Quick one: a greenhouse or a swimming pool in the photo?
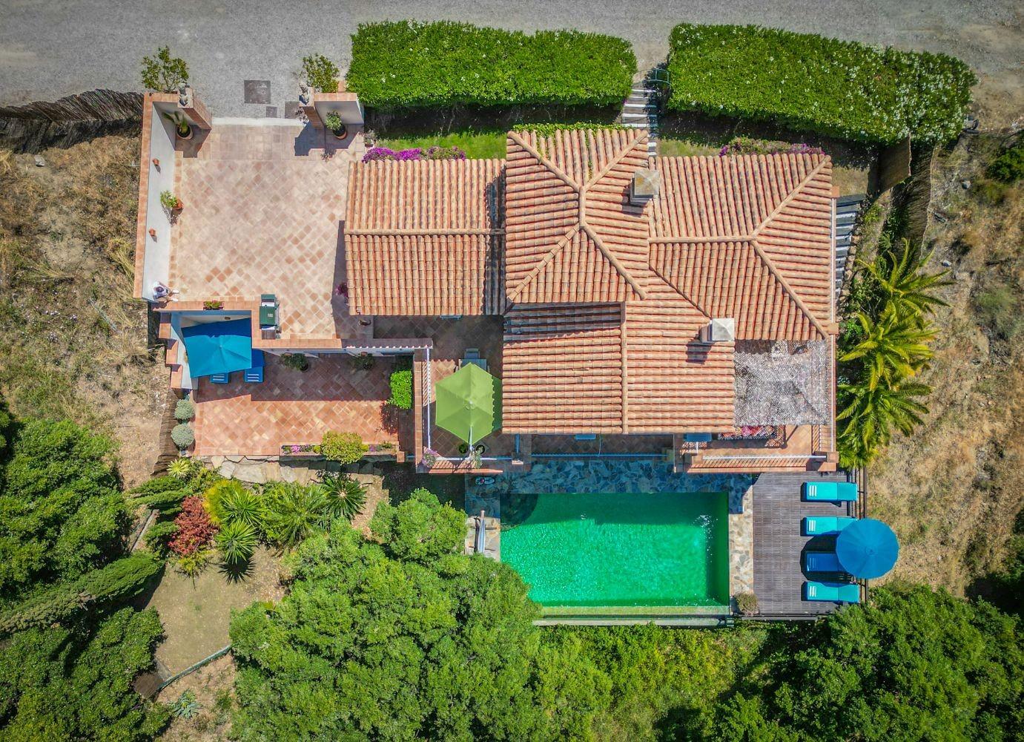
swimming pool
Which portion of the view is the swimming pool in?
bottom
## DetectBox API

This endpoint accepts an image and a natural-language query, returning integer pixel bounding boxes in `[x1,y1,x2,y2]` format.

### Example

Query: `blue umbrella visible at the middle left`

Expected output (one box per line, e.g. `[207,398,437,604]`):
[182,318,252,378]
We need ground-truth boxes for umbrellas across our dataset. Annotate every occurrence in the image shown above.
[182,318,252,378]
[825,516,898,580]
[436,362,504,464]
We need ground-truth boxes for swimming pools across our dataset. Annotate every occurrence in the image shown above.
[496,492,730,627]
